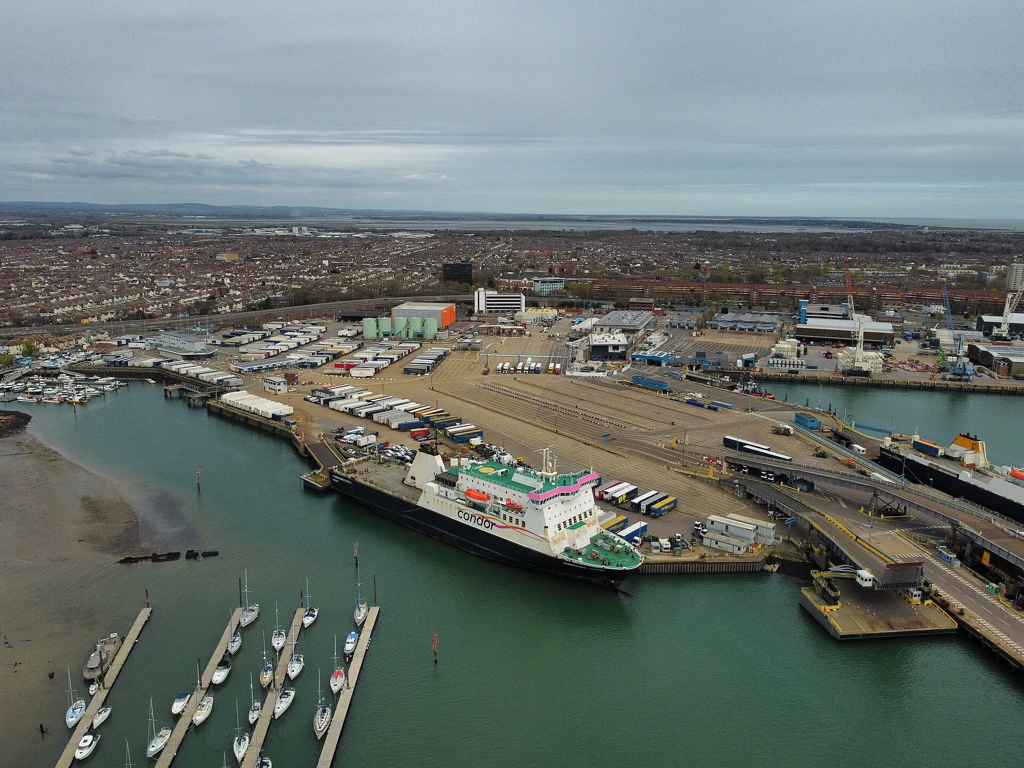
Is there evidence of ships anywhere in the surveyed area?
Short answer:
Yes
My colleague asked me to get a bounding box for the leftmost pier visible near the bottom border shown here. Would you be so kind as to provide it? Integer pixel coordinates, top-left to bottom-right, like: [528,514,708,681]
[59,608,152,768]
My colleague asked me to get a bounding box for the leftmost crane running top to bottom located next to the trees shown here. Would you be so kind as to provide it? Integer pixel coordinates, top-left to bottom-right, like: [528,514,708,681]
[838,258,878,375]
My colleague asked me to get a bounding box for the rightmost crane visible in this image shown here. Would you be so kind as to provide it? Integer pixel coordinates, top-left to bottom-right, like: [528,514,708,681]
[990,272,1024,342]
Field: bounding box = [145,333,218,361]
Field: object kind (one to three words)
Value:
building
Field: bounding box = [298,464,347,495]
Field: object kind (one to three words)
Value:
pier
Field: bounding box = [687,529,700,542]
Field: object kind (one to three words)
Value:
vehicle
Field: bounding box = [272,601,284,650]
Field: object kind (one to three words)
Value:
boat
